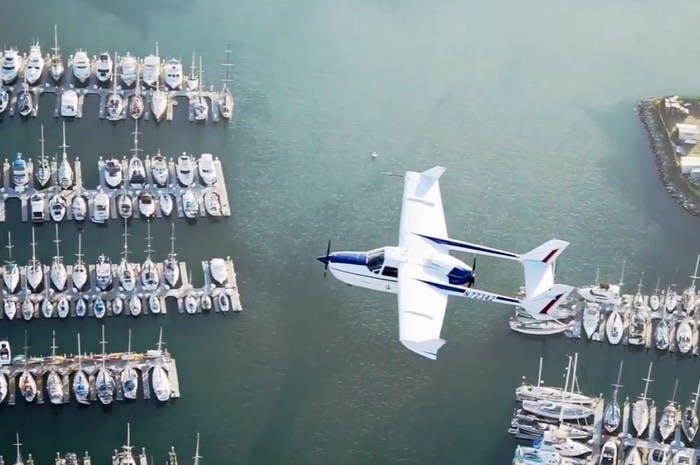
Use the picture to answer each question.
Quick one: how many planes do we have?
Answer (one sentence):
In total, 1 plane can be seen.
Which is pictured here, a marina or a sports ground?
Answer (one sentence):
It's a marina.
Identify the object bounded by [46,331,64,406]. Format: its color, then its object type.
white boat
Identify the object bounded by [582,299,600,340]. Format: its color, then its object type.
white boat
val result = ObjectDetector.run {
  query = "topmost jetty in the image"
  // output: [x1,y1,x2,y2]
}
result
[0,55,221,123]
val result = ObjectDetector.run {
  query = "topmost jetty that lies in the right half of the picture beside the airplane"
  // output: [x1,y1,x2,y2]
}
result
[563,290,700,356]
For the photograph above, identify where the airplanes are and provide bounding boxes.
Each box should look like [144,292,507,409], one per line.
[318,167,574,358]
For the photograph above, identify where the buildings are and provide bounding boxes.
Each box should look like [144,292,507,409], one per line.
[681,155,700,174]
[677,120,700,143]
